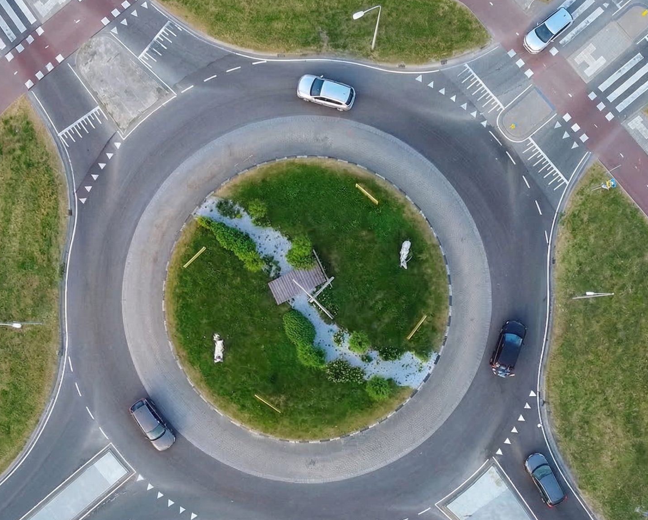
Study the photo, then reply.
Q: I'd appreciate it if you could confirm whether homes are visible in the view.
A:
No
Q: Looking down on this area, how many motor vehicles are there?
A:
5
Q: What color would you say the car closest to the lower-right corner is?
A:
blue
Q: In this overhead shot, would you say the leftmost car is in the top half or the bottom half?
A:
bottom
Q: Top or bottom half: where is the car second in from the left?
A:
top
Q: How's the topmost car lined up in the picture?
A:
on a diagonal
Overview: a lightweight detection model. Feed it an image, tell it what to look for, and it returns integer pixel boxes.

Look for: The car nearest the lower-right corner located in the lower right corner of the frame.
[523,451,569,509]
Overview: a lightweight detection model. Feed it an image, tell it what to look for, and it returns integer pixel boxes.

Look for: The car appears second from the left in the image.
[298,74,356,113]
